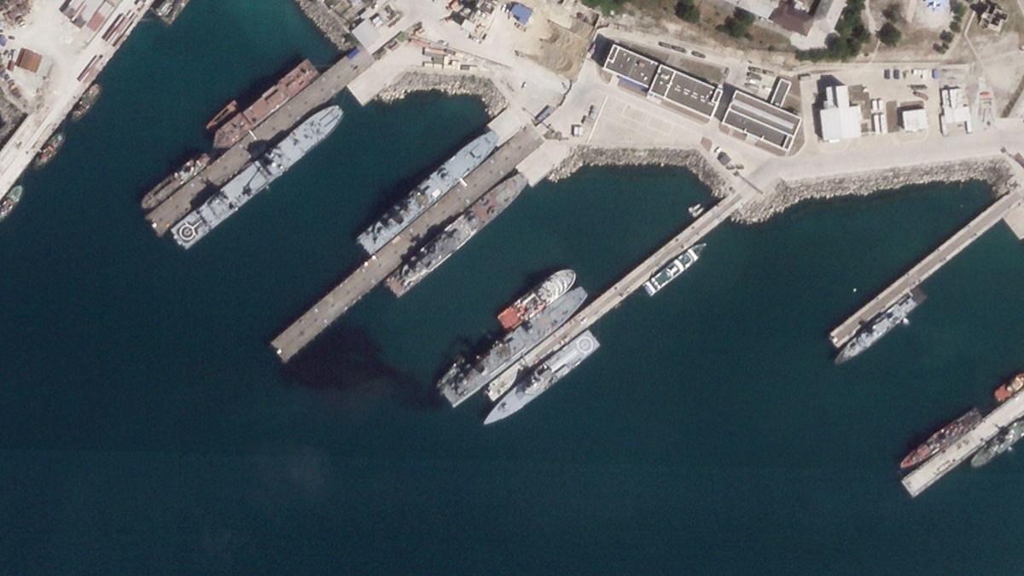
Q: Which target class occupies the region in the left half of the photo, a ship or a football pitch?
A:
ship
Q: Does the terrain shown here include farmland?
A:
No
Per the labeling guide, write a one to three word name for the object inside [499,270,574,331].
ship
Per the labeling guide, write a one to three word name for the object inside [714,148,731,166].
vehicle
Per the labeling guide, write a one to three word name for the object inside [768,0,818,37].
house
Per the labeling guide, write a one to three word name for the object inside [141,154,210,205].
ship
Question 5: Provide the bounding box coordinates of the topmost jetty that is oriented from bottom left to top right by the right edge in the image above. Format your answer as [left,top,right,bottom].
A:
[830,182,1024,348]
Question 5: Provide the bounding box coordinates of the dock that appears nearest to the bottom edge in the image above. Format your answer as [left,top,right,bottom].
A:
[902,391,1024,498]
